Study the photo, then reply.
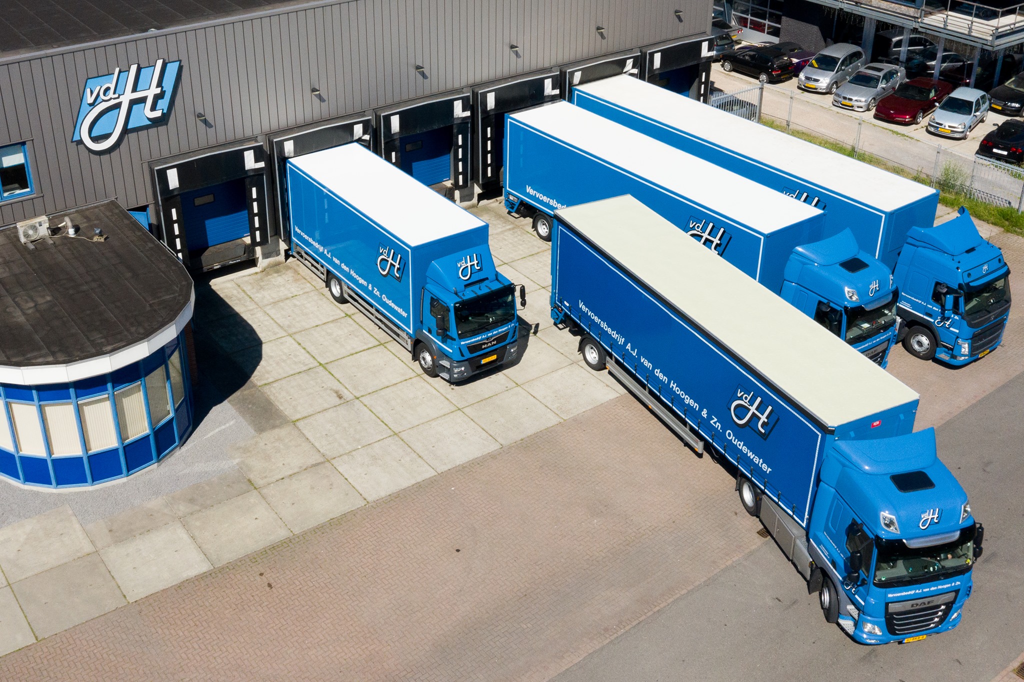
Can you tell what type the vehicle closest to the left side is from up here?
truck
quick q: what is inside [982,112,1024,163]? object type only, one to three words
car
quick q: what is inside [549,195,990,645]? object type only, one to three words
truck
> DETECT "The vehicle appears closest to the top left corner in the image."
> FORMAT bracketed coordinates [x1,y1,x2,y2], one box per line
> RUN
[289,143,530,379]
